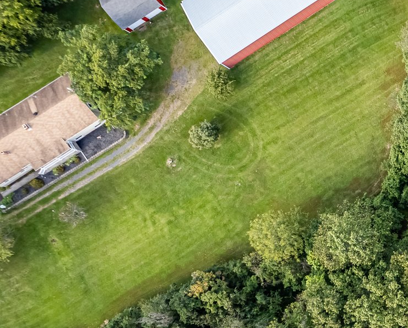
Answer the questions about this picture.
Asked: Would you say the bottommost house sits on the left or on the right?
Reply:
left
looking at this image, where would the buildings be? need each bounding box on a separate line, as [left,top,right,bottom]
[0,73,104,185]
[181,0,336,68]
[100,0,167,34]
